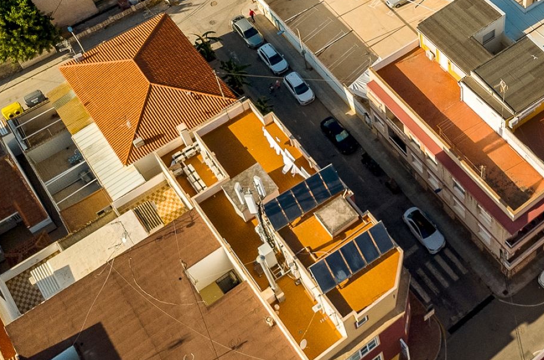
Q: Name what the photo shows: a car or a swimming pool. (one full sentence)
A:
Looking from above, you can make out a car.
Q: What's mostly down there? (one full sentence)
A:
The scene is dominated by buildings.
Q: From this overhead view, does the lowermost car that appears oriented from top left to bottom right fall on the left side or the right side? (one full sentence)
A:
You can find the lowermost car that appears oriented from top left to bottom right on the right side of the picture.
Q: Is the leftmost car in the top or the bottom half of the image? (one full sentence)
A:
It is in the top half that the leftmost car appears.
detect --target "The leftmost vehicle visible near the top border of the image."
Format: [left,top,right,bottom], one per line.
[230,12,268,48]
